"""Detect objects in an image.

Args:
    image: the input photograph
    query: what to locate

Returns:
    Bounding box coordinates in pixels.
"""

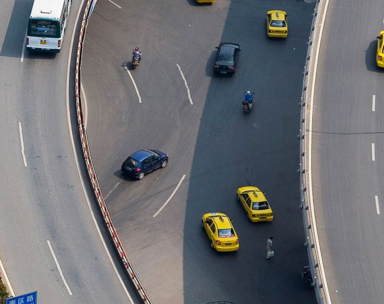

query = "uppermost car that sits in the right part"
[263,3,290,33]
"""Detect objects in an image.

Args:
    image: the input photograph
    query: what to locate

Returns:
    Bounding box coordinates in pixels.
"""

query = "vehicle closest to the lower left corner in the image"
[118,146,170,179]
